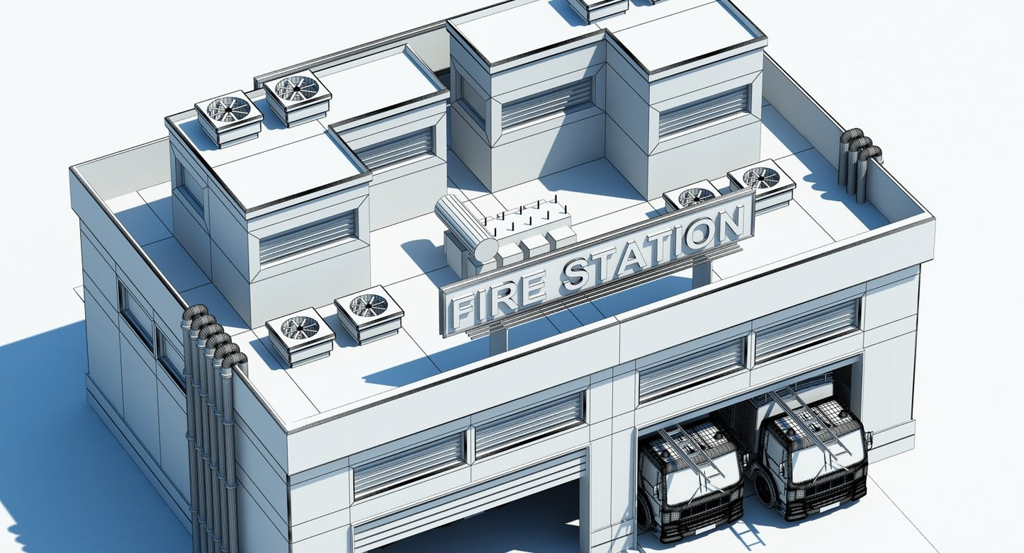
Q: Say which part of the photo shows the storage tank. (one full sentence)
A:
The storage tank is in the center part of the image.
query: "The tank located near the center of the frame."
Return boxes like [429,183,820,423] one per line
[471,201,571,258]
